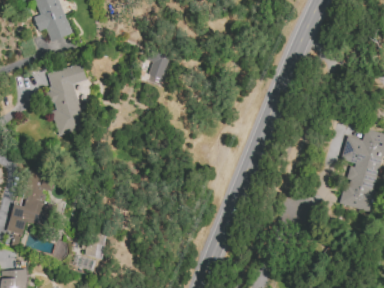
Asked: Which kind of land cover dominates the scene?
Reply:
trees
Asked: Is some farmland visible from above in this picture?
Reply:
No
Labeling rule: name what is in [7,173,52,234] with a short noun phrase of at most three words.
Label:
house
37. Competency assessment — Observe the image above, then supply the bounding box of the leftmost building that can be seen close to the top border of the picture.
[34,0,73,44]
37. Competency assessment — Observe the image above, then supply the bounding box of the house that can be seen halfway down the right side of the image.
[341,130,384,212]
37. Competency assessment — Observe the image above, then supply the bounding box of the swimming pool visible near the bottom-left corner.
[26,235,55,254]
